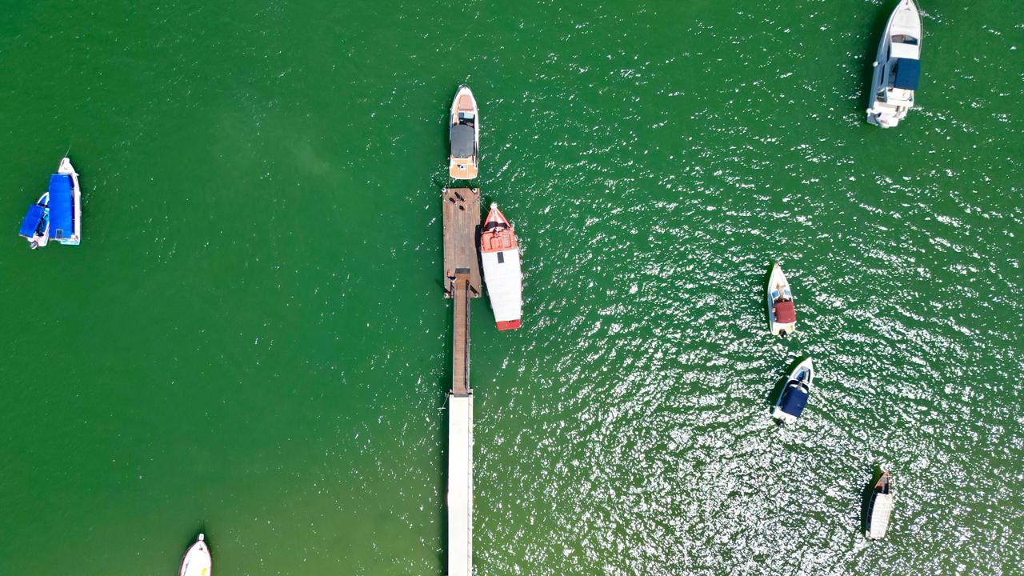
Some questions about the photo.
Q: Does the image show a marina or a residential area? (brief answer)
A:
marina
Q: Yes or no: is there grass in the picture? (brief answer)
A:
No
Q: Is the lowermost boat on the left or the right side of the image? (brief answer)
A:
left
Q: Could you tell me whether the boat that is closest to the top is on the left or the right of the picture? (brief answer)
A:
right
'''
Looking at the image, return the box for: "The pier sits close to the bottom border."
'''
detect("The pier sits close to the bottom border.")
[446,388,473,576]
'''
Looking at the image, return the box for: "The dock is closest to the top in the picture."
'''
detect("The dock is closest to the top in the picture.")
[442,187,482,299]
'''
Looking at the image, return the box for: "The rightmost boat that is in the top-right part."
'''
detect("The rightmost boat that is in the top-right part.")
[865,0,924,129]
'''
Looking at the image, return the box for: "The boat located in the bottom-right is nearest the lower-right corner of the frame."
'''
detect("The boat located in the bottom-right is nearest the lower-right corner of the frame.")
[865,468,893,542]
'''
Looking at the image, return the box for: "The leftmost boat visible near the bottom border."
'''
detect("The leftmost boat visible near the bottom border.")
[179,536,213,576]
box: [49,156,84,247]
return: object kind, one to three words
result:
boat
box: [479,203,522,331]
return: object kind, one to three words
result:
boat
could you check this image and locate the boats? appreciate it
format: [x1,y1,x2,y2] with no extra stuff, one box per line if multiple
[767,264,796,338]
[865,468,893,542]
[479,203,522,331]
[865,0,924,129]
[49,156,84,247]
[446,83,481,179]
[179,536,213,576]
[21,191,50,250]
[774,356,814,424]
